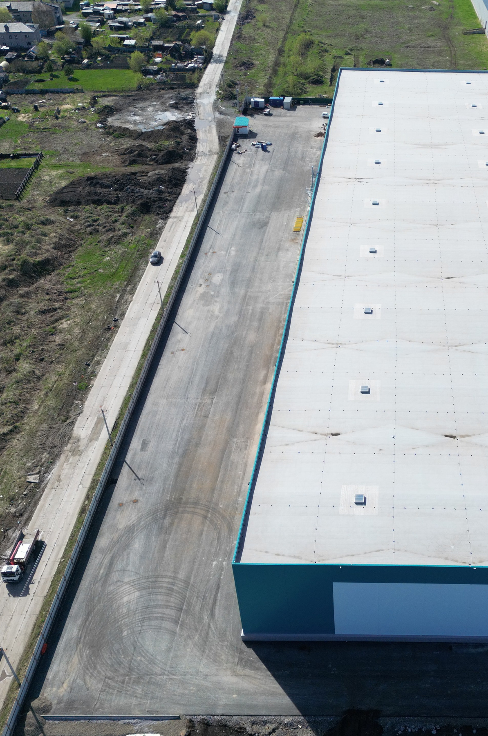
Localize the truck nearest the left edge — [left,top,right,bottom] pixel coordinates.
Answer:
[0,517,48,579]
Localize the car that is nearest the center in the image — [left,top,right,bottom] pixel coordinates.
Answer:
[150,245,165,261]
